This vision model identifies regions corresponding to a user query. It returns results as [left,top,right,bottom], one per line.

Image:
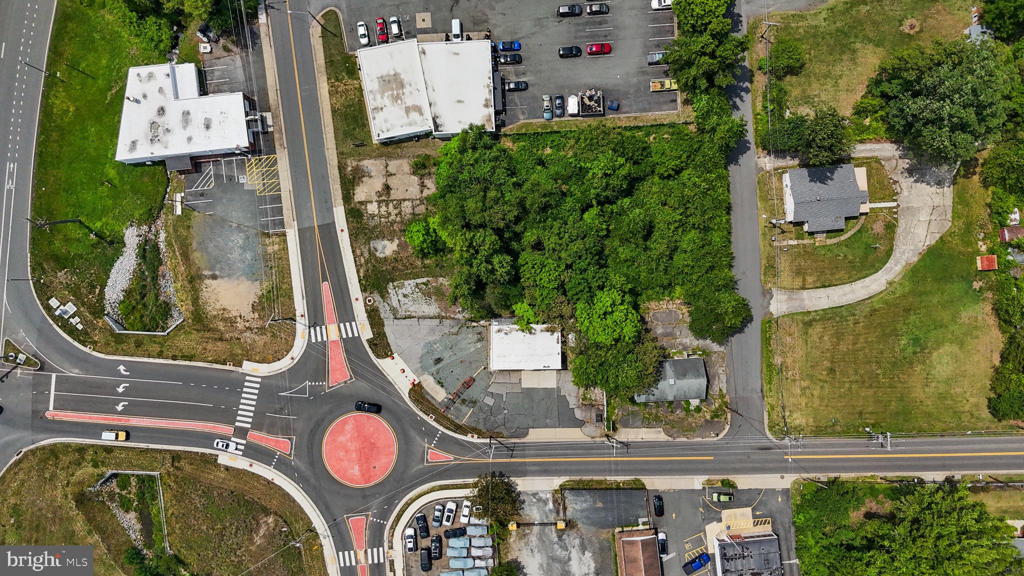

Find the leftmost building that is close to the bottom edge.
[613,524,660,576]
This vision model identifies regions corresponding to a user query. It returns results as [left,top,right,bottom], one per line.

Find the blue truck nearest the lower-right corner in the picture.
[683,554,712,576]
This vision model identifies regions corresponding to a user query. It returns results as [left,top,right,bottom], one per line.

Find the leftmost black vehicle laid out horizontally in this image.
[354,401,381,414]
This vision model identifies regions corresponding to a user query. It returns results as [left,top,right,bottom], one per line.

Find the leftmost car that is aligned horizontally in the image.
[99,431,125,443]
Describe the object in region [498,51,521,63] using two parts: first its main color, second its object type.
black vehicle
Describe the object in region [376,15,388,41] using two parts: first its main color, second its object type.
red vehicle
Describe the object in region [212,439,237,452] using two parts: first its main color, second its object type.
white vehicle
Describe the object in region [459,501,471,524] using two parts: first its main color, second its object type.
white vehicle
